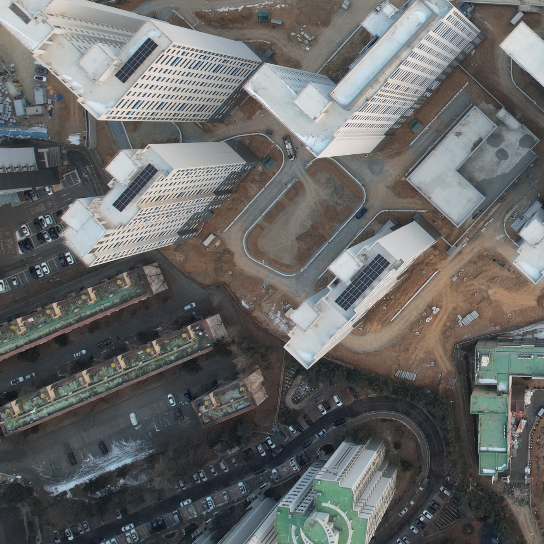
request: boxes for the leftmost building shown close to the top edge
[0,0,272,125]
